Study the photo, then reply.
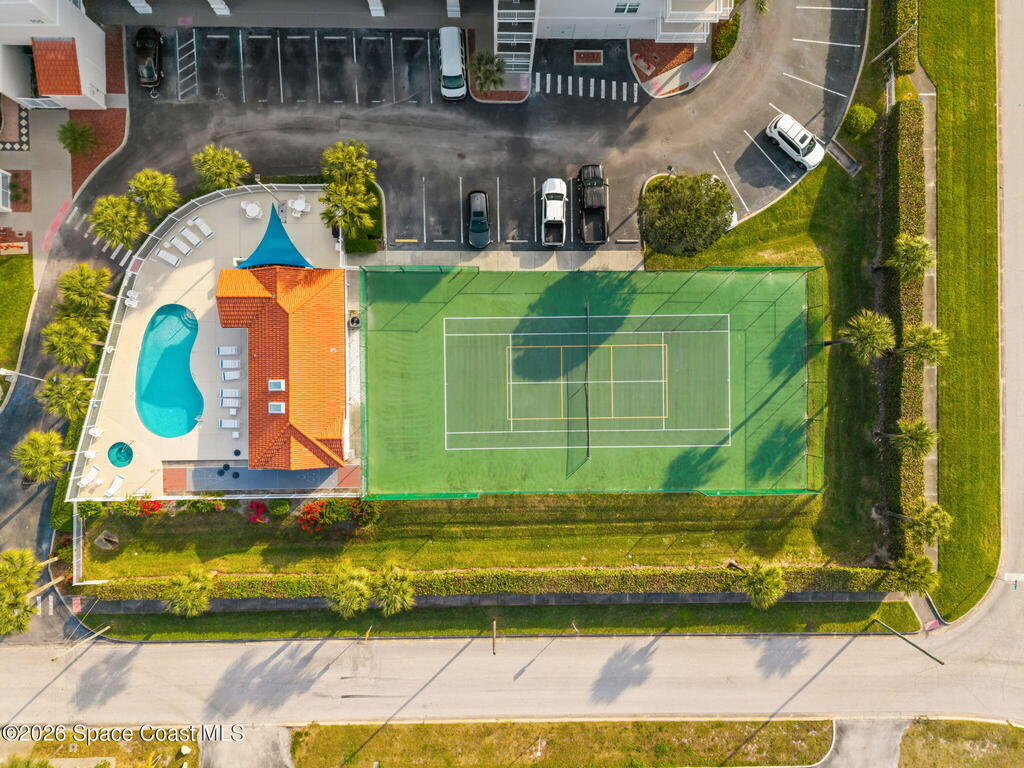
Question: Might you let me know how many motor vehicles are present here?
6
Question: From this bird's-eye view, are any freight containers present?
No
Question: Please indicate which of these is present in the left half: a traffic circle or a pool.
pool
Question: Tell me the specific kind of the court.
tennis court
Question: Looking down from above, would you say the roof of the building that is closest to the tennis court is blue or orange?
orange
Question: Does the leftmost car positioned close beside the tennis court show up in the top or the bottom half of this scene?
top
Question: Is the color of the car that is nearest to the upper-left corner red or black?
black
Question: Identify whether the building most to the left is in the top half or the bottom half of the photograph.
top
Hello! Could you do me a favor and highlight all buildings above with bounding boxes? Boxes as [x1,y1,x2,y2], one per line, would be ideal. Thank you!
[0,0,105,112]
[497,0,739,73]
[216,265,350,472]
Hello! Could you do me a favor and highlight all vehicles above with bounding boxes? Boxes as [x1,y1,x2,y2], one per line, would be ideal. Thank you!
[437,27,467,103]
[133,28,167,89]
[578,165,609,246]
[540,178,569,247]
[465,193,493,249]
[764,115,823,172]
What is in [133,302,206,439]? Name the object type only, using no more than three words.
swimming pool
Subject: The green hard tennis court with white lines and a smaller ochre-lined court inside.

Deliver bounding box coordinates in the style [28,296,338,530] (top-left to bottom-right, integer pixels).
[366,272,807,494]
